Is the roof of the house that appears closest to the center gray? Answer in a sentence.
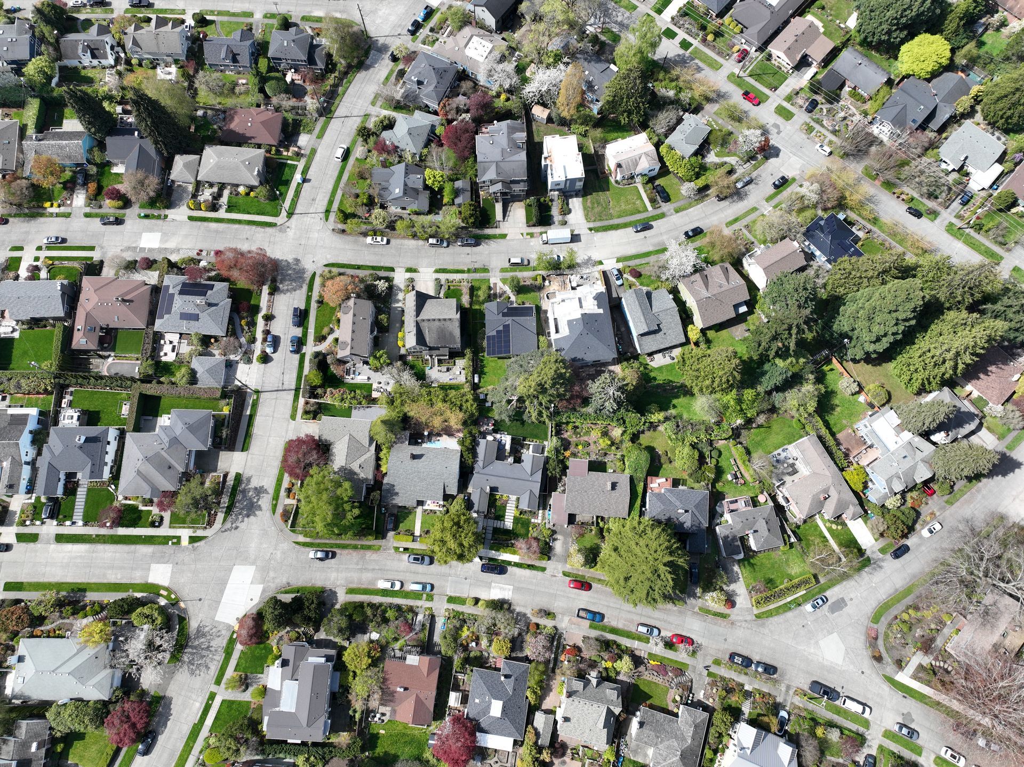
Yes, gray is the color of the roof of the house that appears closest to the center.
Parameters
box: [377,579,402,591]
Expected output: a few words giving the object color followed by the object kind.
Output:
white vehicle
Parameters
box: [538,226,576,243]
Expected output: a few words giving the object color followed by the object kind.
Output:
white vehicle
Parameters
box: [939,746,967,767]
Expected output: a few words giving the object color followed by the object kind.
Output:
white car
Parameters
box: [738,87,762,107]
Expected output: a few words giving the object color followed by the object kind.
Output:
red vehicle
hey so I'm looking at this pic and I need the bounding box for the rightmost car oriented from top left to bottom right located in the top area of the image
[902,204,926,221]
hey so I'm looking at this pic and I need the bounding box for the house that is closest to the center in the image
[485,302,537,358]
